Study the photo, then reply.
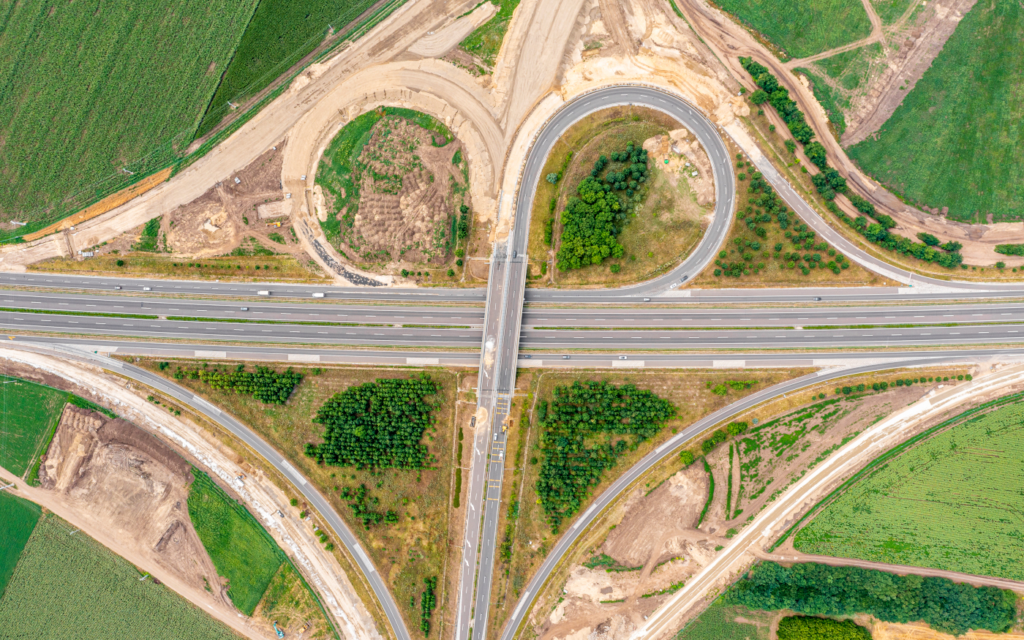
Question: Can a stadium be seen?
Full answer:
No, the scene contains no stadium.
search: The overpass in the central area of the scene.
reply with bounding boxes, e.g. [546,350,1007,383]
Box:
[471,250,536,402]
